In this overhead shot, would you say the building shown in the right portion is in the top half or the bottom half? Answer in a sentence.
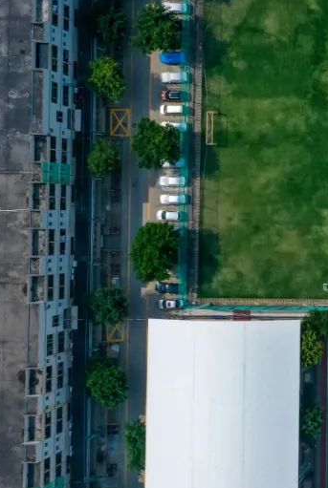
Seen from above, the building shown in the right portion lies in the bottom half of the view.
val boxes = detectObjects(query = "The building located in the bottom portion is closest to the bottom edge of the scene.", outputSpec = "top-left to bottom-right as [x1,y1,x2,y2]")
[144,319,307,488]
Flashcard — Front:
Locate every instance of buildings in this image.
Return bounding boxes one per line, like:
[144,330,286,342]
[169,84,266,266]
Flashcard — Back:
[0,0,81,488]
[144,319,307,488]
